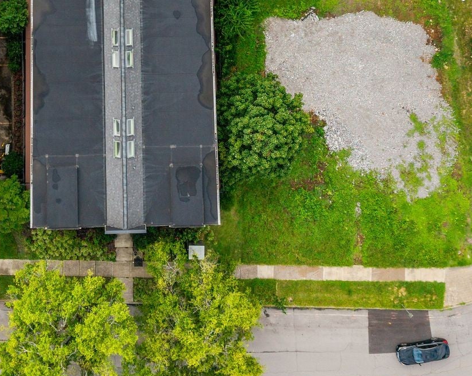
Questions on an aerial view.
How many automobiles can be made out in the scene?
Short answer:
1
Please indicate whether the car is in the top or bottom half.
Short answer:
bottom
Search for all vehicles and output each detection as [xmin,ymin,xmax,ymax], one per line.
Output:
[393,336,450,368]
